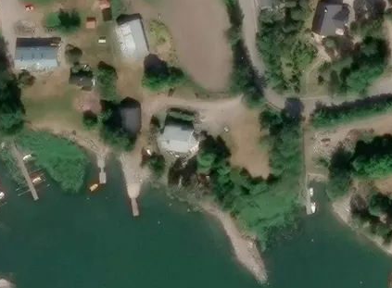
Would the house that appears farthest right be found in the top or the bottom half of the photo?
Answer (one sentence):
The house that appears farthest right sits in the top half of the picture.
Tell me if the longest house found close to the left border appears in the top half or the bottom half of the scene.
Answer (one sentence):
You can find the longest house found close to the left border in the top half.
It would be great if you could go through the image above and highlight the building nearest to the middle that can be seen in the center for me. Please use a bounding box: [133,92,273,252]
[161,123,200,158]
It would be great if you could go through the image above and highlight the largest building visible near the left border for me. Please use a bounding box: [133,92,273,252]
[14,45,58,66]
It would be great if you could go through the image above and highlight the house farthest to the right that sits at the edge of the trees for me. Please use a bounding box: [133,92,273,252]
[315,0,351,36]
